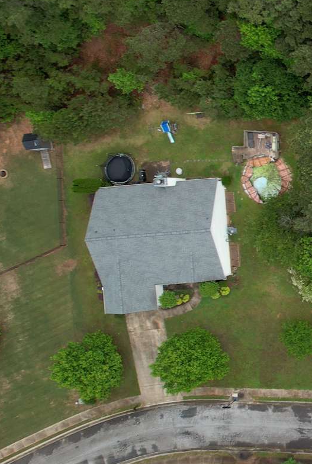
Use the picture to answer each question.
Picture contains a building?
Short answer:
Yes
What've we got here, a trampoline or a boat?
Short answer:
trampoline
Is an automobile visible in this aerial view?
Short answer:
No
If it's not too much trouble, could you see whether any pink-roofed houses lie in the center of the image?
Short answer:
No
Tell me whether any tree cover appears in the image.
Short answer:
Yes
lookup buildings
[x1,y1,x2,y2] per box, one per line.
[89,176,231,313]
[16,137,49,168]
